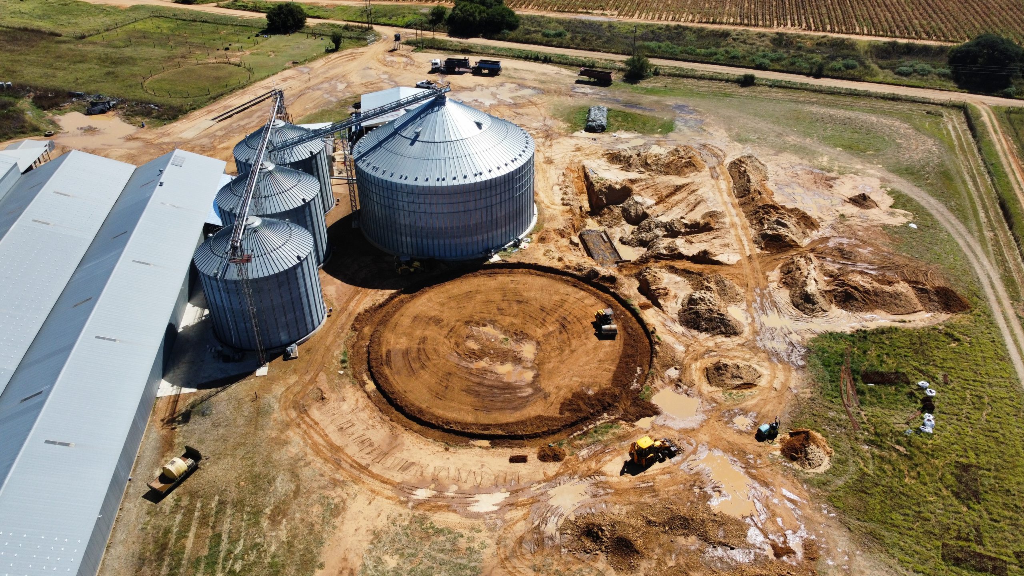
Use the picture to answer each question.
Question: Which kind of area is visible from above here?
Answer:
industrial area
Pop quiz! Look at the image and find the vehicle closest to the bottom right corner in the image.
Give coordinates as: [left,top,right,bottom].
[754,421,788,445]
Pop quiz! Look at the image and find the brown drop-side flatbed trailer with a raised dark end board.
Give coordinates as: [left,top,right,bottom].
[146,442,205,493]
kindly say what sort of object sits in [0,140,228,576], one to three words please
shed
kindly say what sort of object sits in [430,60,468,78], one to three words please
vehicle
